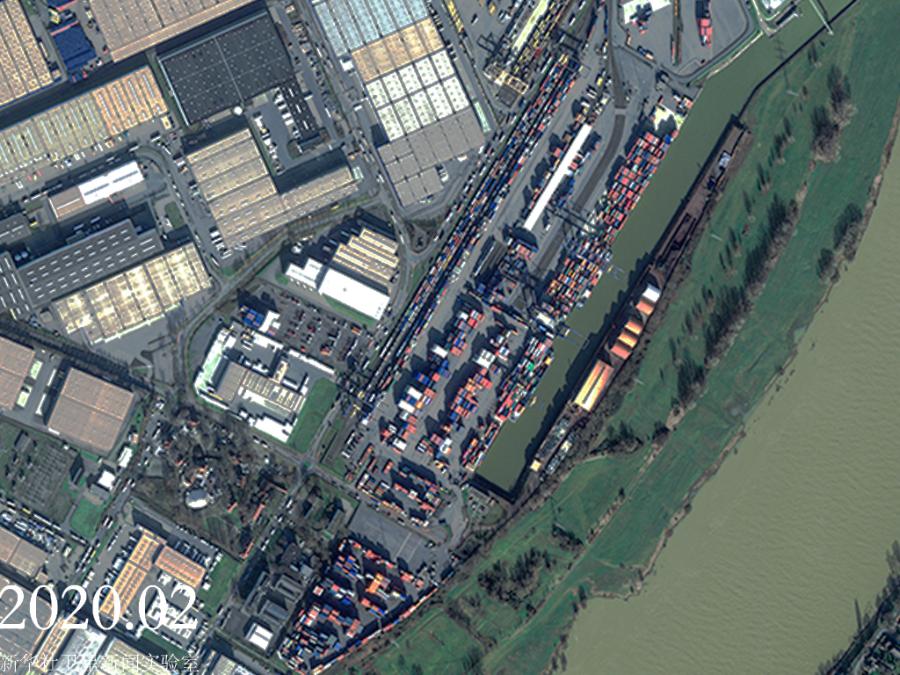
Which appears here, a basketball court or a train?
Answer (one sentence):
Visible in the photo is a train.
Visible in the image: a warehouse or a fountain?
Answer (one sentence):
The image shows a warehouse.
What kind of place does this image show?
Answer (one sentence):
This looks like a port.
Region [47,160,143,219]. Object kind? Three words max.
building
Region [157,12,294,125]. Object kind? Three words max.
warehouse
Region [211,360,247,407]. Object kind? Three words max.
building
